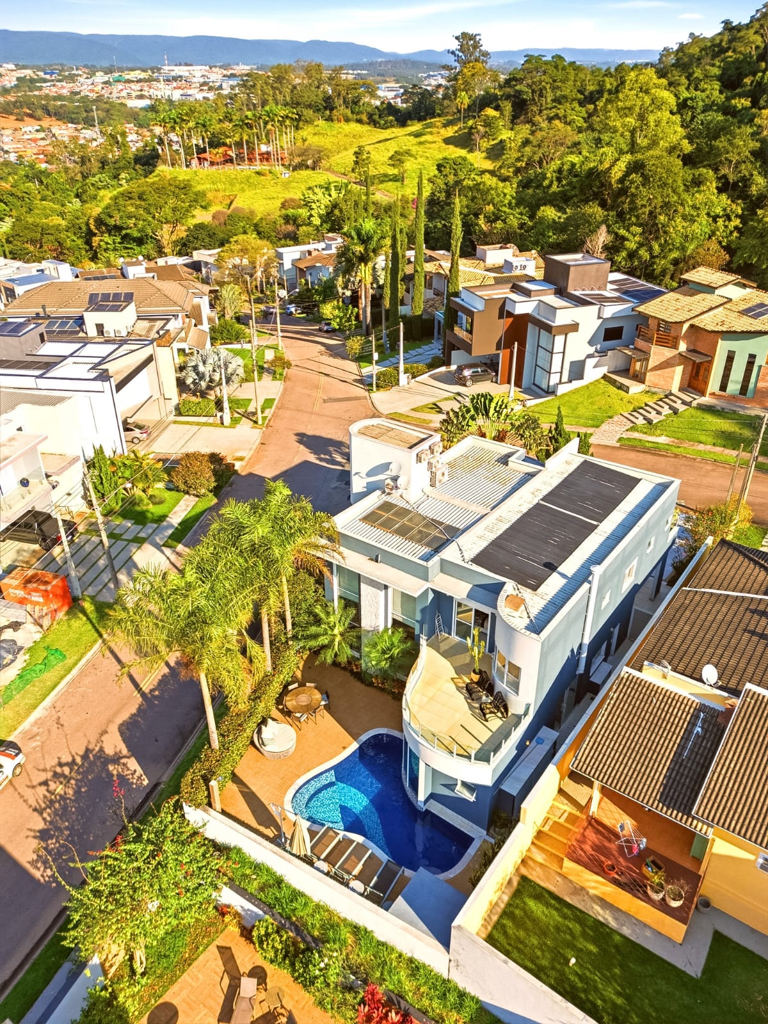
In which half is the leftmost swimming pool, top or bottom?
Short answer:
bottom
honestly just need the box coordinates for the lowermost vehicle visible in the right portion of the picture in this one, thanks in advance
[452,367,500,389]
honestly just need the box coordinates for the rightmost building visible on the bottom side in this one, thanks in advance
[532,527,768,945]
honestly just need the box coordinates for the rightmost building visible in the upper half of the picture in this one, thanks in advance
[619,264,768,410]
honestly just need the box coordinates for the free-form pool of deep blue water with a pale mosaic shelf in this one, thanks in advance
[282,720,504,883]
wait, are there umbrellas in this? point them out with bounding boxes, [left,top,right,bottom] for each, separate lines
[273,807,306,853]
